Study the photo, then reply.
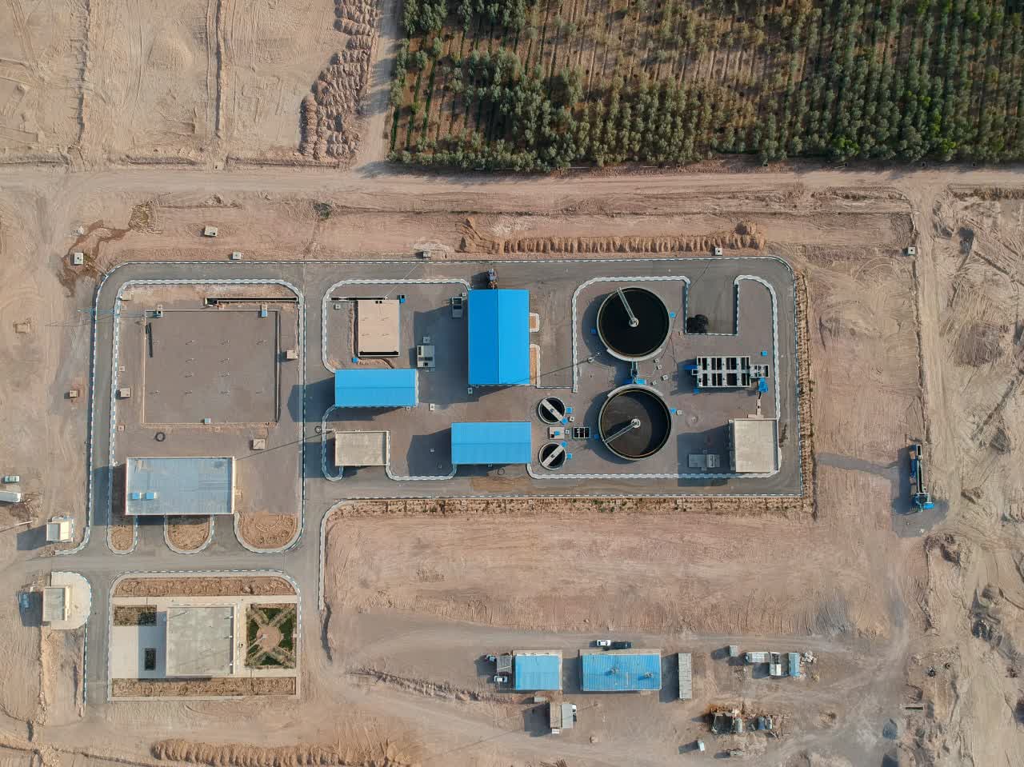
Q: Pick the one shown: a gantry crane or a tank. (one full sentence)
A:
Looking from above, you can make out a tank.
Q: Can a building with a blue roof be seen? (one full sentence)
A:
Yes, there is a building with a blue roof in the image.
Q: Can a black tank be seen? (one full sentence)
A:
Yes, the picture does show a black tank.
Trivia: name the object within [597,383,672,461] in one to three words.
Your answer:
storage tank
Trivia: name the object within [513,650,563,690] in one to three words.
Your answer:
building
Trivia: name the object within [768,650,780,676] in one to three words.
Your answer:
vehicle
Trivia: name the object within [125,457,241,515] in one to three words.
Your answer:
building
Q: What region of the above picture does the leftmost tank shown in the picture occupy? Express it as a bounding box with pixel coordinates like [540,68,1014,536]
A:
[358,300,400,359]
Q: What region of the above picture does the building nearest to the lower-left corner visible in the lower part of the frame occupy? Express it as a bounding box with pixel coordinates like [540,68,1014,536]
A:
[42,584,75,621]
